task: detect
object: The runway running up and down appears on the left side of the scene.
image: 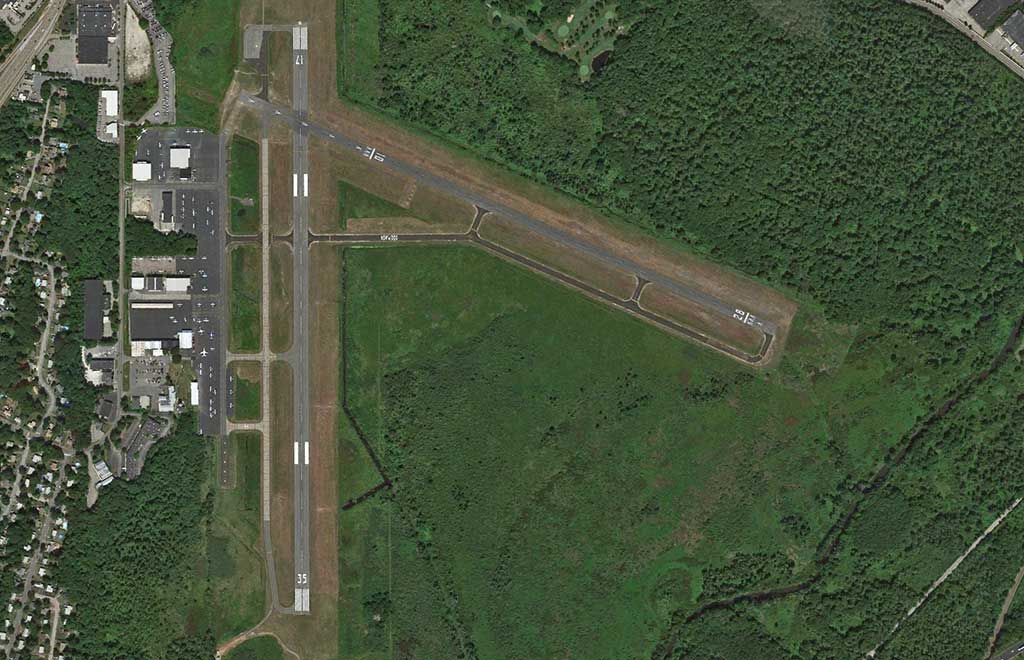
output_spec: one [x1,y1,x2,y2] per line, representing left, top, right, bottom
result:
[293,24,309,614]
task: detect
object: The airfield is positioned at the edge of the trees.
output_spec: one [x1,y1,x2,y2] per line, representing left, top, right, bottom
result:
[124,0,777,616]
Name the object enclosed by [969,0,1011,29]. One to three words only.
building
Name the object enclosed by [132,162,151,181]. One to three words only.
hangar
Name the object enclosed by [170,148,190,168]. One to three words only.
hangar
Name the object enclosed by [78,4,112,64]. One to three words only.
building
